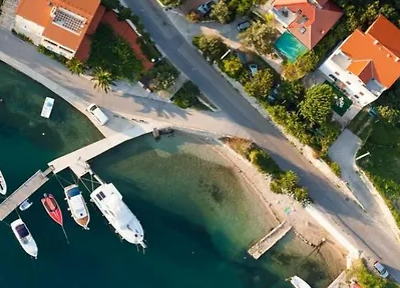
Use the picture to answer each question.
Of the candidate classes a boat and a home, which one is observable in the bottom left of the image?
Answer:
boat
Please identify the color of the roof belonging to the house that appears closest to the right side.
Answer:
orange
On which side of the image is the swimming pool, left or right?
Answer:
right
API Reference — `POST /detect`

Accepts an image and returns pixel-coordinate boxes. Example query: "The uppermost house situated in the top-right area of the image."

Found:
[269,0,349,51]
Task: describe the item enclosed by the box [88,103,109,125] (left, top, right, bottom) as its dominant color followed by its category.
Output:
white vehicle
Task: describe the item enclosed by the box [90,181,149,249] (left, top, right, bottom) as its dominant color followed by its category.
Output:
white boat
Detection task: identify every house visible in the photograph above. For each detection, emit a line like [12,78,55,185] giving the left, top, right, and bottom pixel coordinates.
[14,0,105,62]
[318,6,400,96]
[269,0,349,51]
